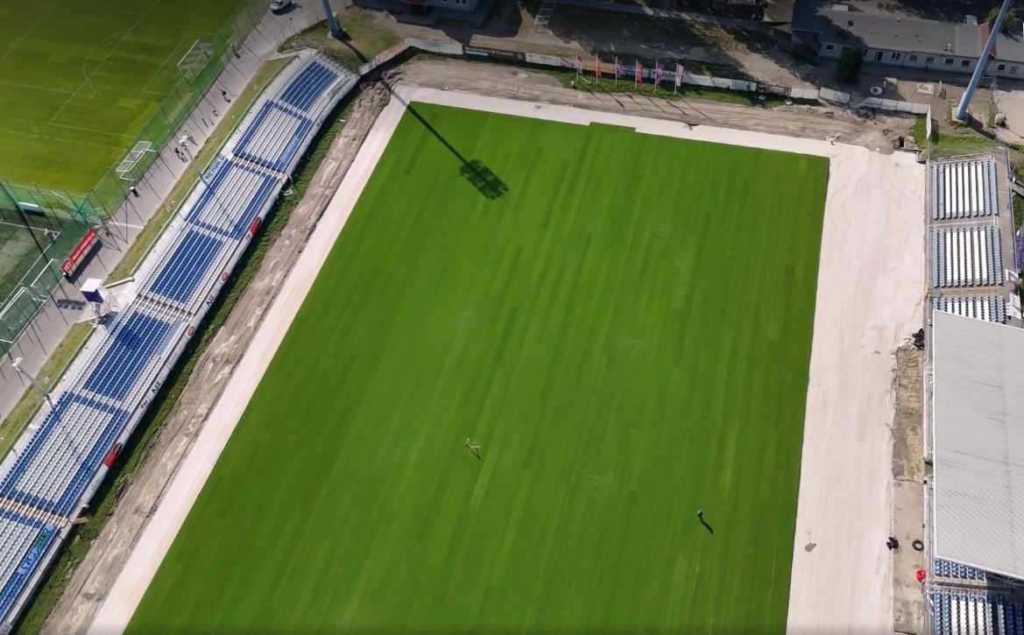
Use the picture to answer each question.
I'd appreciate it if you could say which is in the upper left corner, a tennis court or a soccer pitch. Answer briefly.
soccer pitch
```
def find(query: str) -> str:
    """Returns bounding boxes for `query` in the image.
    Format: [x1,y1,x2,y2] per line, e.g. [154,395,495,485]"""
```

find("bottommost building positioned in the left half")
[79,278,118,325]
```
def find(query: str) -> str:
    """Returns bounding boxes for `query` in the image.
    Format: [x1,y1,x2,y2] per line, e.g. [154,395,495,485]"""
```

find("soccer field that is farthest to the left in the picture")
[0,210,94,351]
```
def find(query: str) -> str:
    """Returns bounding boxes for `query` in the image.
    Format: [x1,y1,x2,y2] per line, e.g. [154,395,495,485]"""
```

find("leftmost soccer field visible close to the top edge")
[0,0,249,207]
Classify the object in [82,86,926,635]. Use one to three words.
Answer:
sports field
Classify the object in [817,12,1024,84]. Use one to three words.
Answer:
building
